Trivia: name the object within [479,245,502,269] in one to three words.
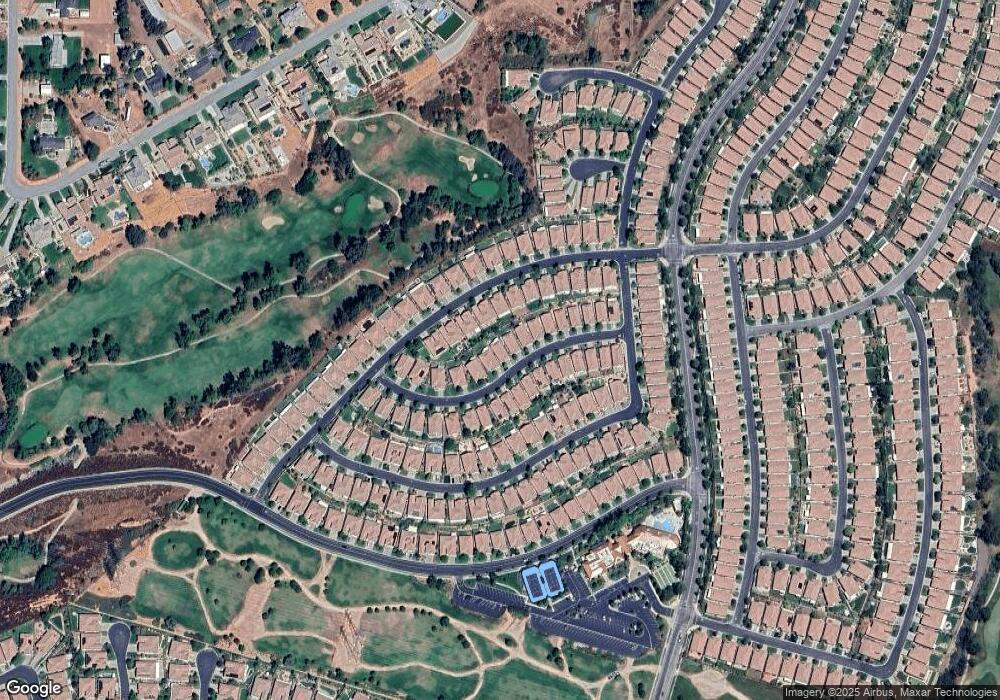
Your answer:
house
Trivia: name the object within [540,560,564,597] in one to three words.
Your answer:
tennis court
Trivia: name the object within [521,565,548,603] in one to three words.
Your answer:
tennis court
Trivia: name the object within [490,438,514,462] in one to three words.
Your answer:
house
